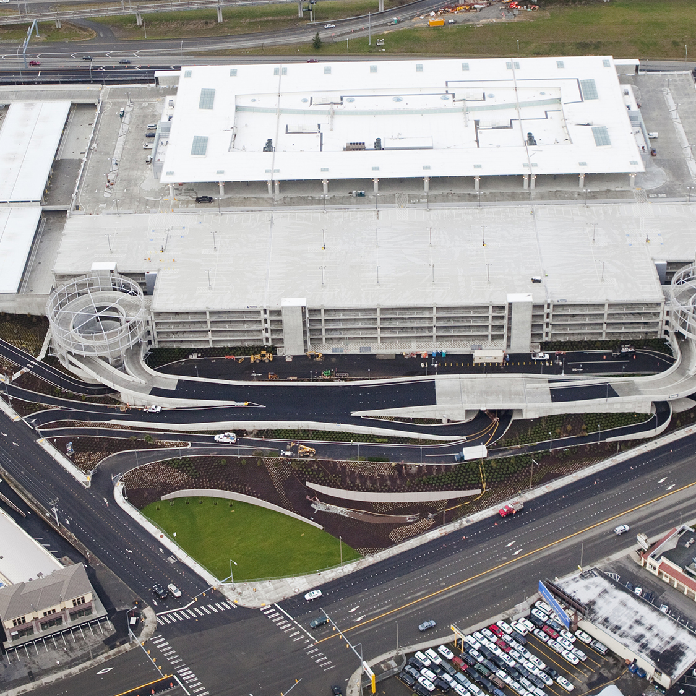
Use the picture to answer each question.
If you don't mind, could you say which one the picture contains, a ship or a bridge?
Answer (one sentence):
There is a bridge in the scene.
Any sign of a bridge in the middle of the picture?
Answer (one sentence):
Yes, a bridge shows up in the middle of the picture.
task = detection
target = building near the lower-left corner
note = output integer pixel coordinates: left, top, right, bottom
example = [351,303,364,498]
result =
[0,507,108,641]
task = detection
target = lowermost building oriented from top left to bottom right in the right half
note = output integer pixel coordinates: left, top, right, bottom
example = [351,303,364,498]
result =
[553,566,696,693]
